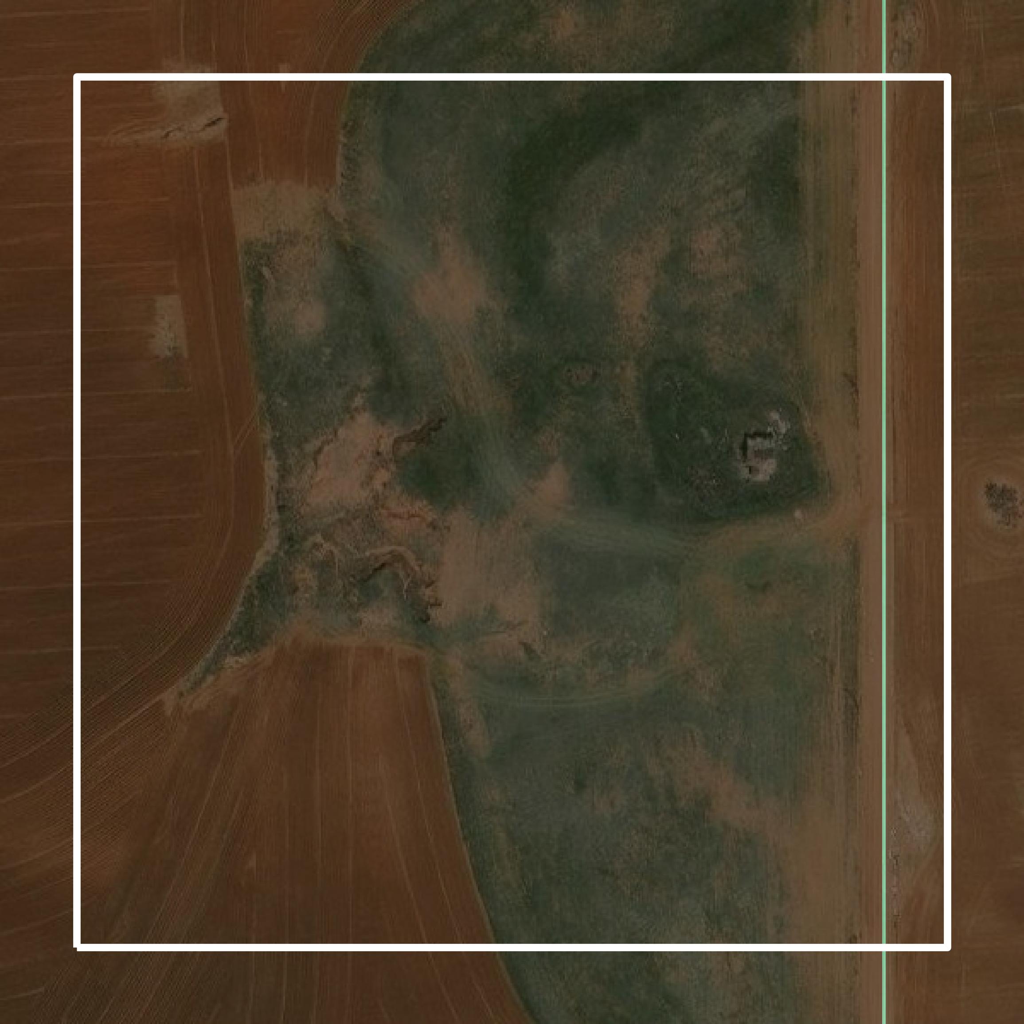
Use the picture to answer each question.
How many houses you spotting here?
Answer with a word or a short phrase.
one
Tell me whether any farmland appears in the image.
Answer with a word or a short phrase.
Yes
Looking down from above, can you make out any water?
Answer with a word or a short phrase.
No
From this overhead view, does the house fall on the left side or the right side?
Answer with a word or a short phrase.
right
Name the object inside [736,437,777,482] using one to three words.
house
